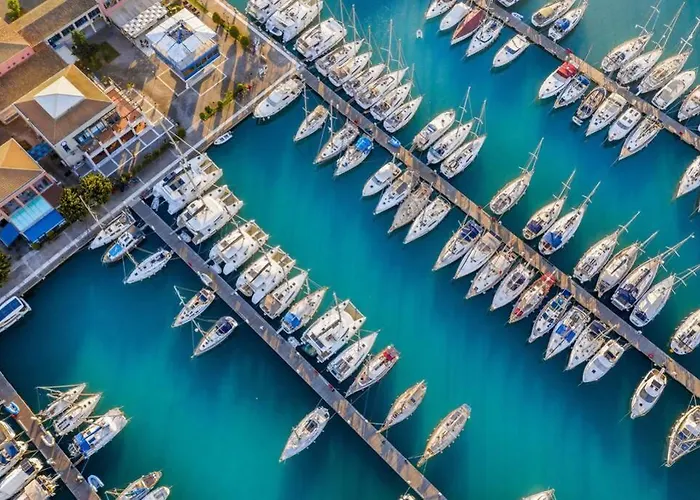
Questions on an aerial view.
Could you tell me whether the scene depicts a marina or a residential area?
marina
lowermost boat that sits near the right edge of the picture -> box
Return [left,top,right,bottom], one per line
[656,410,700,474]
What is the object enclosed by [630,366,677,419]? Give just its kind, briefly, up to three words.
boat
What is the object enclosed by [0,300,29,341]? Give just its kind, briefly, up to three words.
boat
